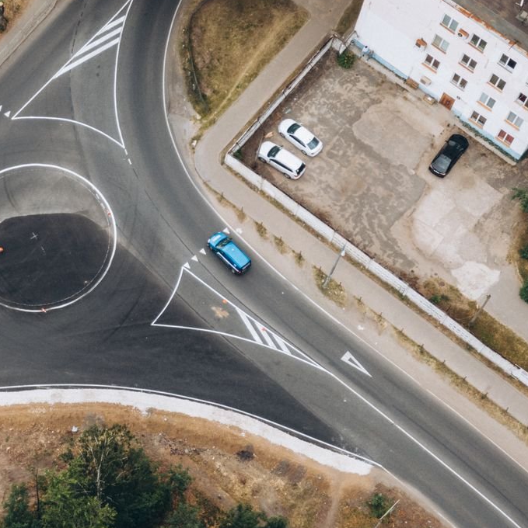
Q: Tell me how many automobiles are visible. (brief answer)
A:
4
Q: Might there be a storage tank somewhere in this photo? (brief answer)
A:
No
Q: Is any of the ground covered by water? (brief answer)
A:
No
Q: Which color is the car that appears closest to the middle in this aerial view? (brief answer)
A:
blue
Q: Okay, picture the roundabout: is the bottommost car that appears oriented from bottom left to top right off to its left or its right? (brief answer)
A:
right of it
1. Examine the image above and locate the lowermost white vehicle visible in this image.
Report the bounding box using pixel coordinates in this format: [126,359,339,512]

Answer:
[255,141,307,180]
